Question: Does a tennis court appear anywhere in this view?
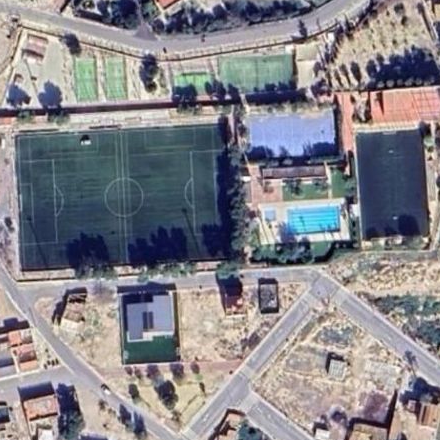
Yes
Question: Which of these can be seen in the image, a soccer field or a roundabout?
soccer field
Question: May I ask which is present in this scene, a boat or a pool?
pool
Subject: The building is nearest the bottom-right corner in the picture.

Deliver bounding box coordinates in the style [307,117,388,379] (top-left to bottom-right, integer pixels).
[407,401,440,429]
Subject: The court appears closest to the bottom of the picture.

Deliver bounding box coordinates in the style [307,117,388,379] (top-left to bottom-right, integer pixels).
[248,110,337,158]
